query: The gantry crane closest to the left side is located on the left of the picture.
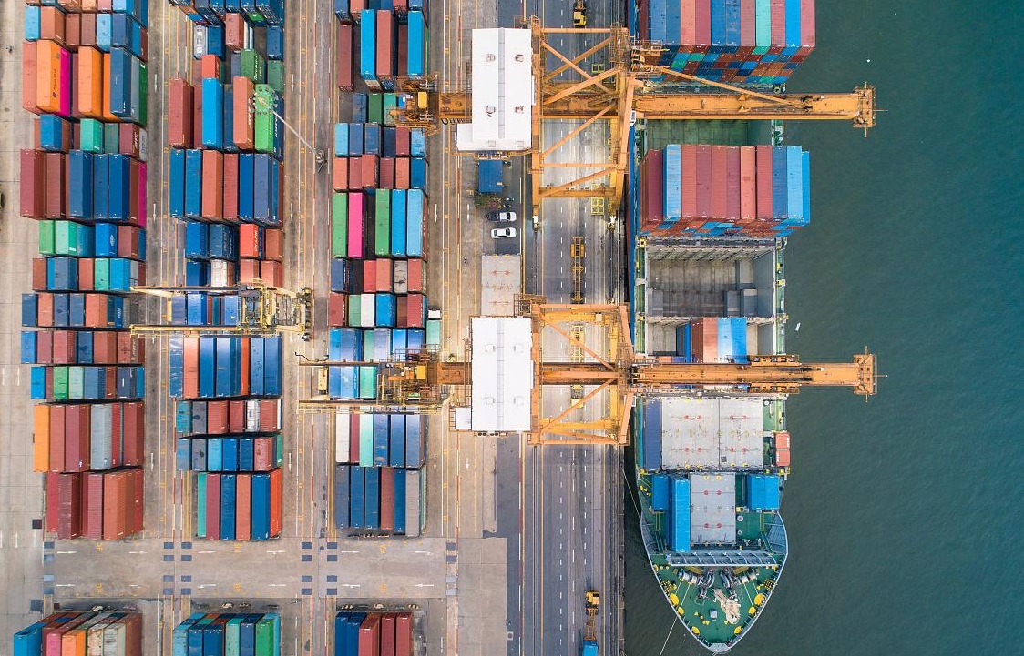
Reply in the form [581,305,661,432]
[132,284,310,342]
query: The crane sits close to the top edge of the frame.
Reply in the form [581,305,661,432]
[391,8,890,241]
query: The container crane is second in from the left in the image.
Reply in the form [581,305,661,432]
[299,357,458,414]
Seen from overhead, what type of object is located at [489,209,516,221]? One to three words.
vehicle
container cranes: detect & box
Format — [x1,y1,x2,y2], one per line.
[299,357,458,414]
[390,290,891,456]
[391,8,890,241]
[132,284,310,342]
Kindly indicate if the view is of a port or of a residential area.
port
